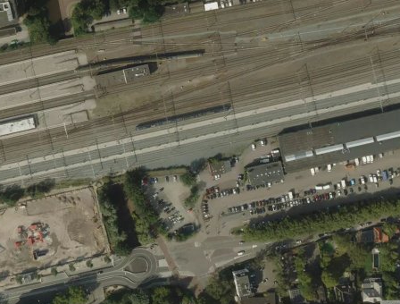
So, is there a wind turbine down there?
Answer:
No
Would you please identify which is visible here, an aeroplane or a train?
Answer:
train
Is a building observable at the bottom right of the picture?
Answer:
Yes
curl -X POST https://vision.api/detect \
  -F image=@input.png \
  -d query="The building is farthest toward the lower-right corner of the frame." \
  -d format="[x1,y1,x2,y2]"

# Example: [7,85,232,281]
[362,279,382,302]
